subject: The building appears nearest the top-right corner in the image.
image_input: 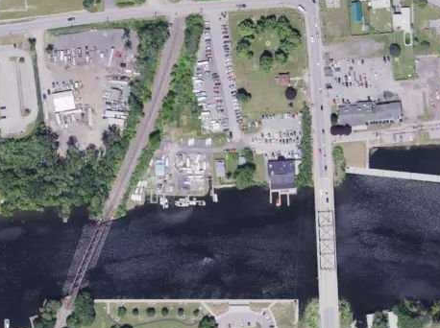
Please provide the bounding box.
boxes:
[393,6,412,30]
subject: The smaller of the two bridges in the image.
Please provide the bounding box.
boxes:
[66,217,109,300]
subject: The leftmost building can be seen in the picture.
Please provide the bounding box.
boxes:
[53,89,82,115]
